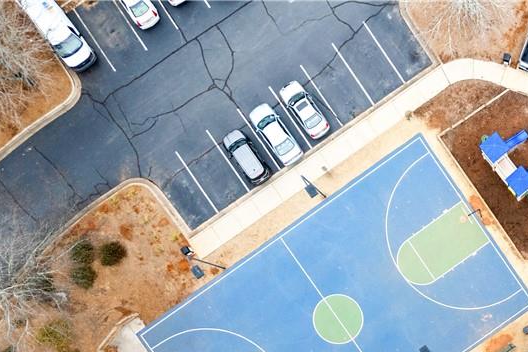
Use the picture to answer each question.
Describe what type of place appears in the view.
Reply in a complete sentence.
What you see here is a sports ground.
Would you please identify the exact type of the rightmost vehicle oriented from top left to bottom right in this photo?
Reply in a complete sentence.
In the photo, the rightmost vehicle oriented from top left to bottom right shows up as a car.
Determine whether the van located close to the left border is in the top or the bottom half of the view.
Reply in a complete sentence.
The van located close to the left border is in the top half of the image.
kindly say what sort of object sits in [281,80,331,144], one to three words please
car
